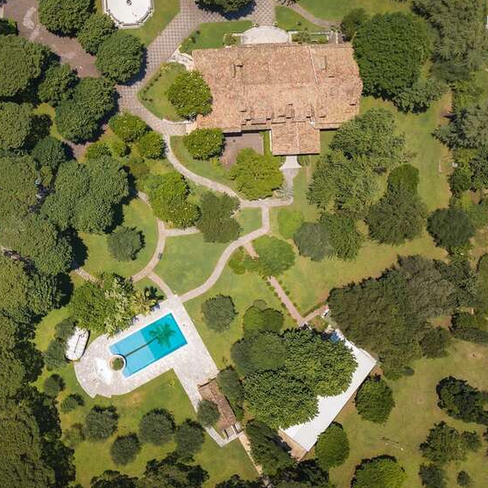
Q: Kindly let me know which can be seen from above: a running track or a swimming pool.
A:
swimming pool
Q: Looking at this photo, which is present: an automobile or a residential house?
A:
residential house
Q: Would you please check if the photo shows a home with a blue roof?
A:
No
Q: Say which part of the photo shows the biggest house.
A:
top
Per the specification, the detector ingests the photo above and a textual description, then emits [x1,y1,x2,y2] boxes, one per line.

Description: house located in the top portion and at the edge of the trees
[189,44,362,154]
